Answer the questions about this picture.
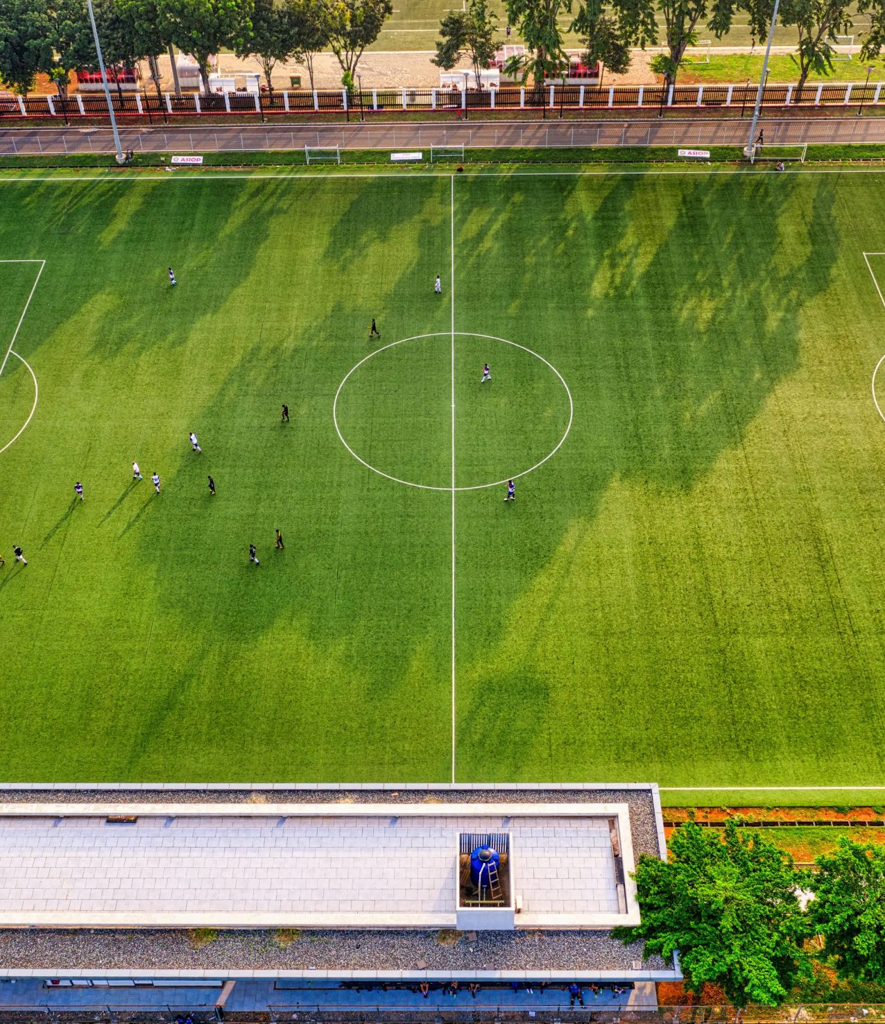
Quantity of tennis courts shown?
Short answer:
zero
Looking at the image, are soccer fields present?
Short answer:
Yes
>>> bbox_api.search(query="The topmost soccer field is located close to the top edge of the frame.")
[2,0,881,55]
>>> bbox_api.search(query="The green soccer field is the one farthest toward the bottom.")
[0,164,885,807]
